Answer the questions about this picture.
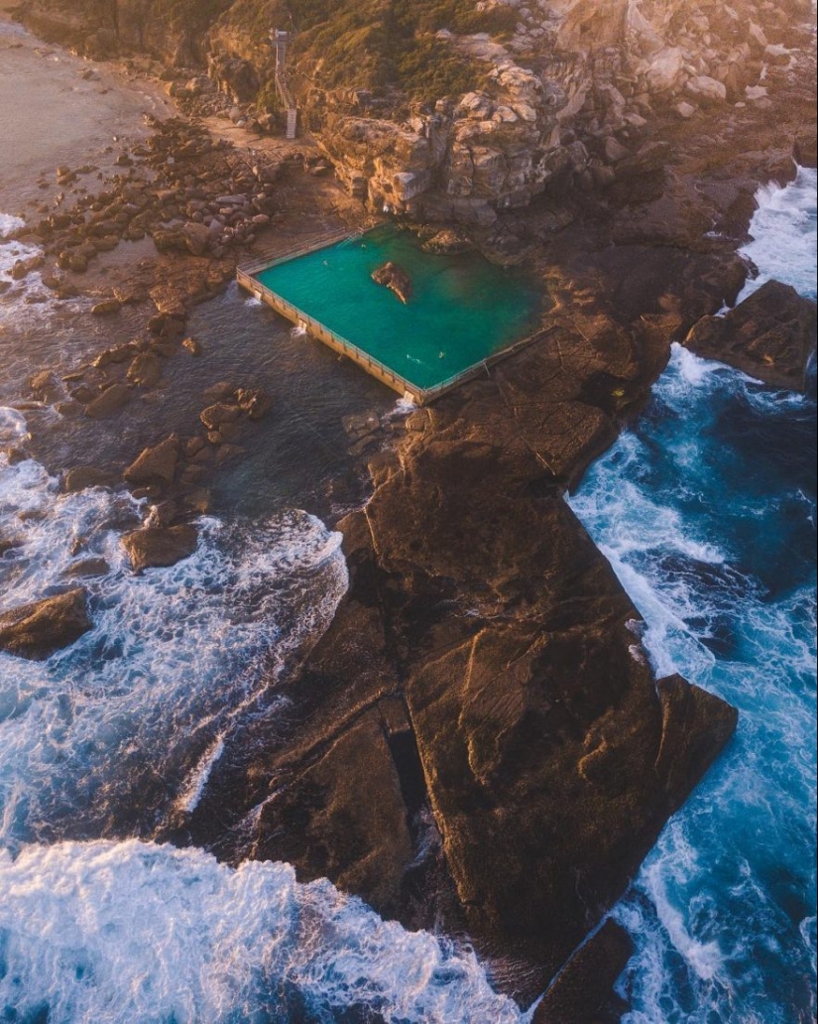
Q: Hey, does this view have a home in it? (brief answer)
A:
No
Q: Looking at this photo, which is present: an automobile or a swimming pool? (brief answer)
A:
swimming pool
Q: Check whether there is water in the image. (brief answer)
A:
Yes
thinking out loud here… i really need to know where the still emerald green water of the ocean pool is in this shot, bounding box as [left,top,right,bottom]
[254,224,540,398]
